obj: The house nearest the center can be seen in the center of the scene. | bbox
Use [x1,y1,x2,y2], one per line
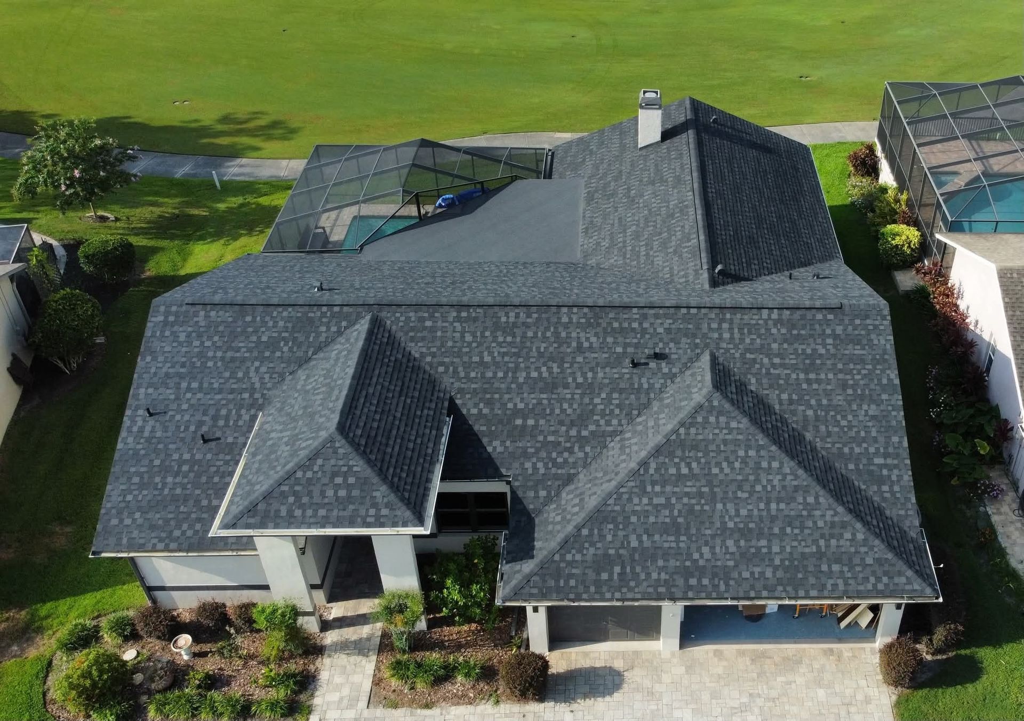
[92,84,945,652]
